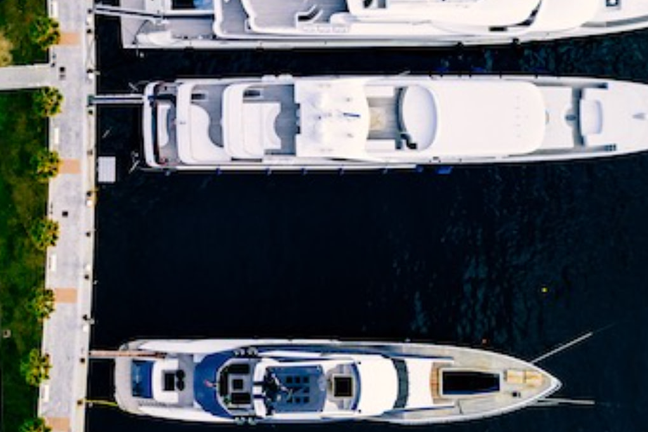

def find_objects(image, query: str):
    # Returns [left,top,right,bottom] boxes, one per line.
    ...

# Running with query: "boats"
[120,0,648,52]
[117,336,560,425]
[144,67,648,174]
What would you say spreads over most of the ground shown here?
water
